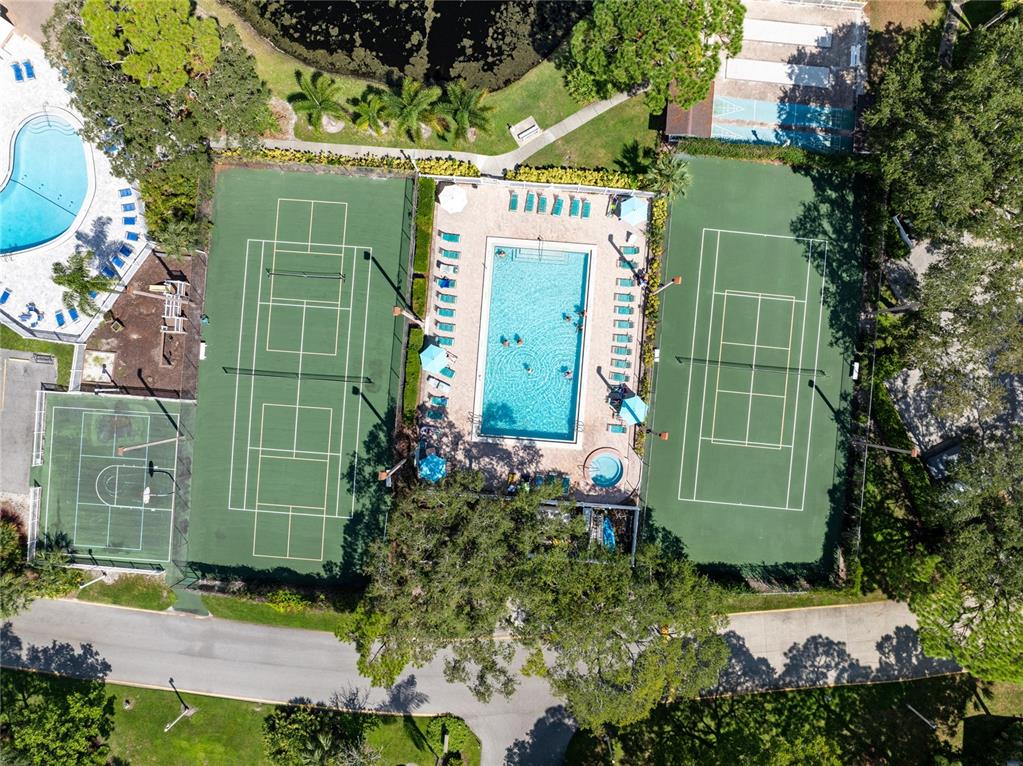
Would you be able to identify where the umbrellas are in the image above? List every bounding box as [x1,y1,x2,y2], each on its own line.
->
[621,196,647,227]
[420,345,448,375]
[617,393,649,426]
[439,185,468,213]
[421,453,446,481]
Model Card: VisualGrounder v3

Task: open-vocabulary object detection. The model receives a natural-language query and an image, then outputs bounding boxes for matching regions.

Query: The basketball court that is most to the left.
[30,391,196,576]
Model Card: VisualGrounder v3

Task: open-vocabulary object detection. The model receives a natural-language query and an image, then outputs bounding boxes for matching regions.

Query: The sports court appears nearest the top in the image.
[739,18,833,48]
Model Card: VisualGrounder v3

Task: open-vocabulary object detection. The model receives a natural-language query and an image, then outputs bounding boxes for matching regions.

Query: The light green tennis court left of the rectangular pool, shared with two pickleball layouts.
[187,168,414,579]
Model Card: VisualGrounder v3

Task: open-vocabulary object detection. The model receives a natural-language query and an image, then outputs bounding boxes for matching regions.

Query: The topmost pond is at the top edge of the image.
[224,0,593,95]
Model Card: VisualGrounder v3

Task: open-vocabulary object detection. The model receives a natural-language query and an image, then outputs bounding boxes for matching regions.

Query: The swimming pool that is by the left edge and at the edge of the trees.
[0,100,94,260]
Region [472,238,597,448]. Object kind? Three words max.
swimming pool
